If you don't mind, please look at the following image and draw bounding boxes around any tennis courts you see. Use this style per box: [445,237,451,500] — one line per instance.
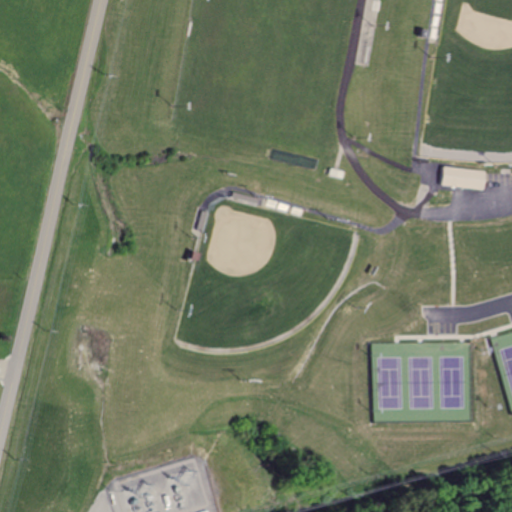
[440,356,468,410]
[500,347,512,394]
[408,356,436,410]
[376,356,402,410]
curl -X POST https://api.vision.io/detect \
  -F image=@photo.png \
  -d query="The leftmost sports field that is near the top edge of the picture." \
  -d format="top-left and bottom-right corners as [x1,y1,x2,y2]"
[172,0,358,156]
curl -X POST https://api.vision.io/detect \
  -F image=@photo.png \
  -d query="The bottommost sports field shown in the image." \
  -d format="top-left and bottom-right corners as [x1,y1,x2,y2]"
[177,200,358,354]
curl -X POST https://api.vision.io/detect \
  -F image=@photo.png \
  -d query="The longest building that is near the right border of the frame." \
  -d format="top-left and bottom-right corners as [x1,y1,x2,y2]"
[438,166,486,190]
